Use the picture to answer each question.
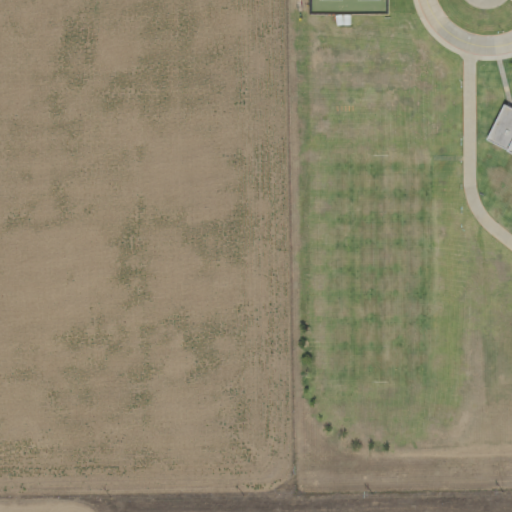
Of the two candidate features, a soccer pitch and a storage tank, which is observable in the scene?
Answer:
soccer pitch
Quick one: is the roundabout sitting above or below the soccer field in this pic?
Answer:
above it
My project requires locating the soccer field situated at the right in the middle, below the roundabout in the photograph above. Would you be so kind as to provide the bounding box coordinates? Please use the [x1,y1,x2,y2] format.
[312,155,448,381]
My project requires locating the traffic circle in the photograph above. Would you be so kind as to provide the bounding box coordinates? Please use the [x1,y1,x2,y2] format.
[412,0,512,68]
